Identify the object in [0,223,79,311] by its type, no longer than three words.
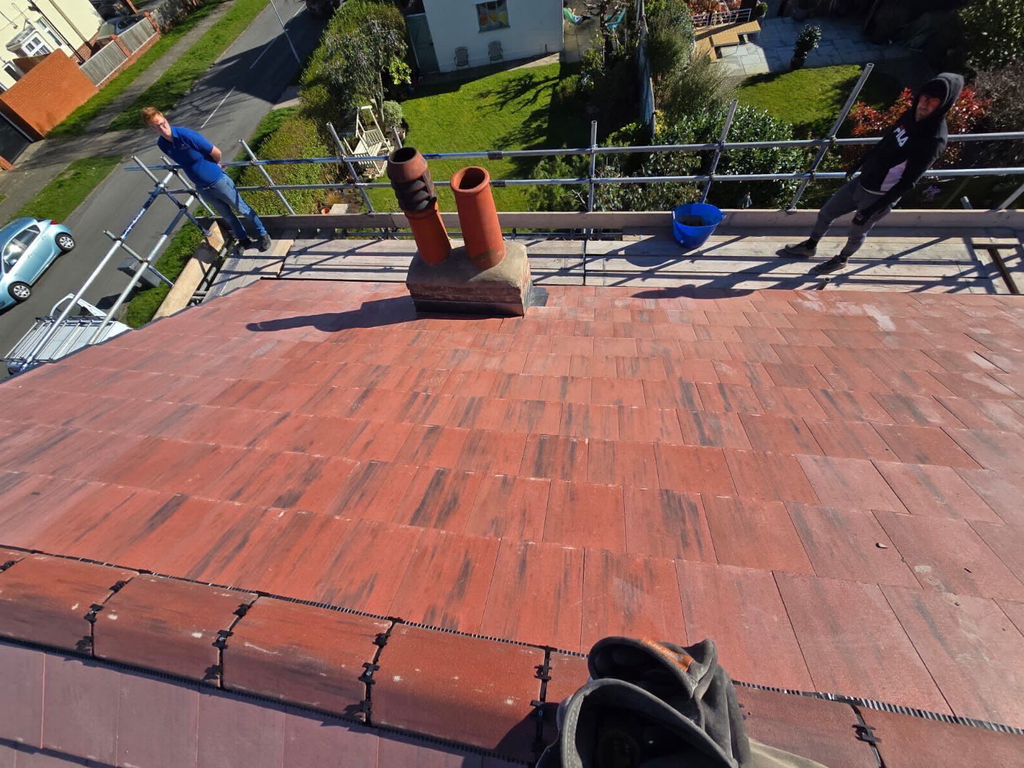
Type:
car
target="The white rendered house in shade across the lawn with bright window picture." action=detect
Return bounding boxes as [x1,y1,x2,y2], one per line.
[418,0,560,72]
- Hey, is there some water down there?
No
